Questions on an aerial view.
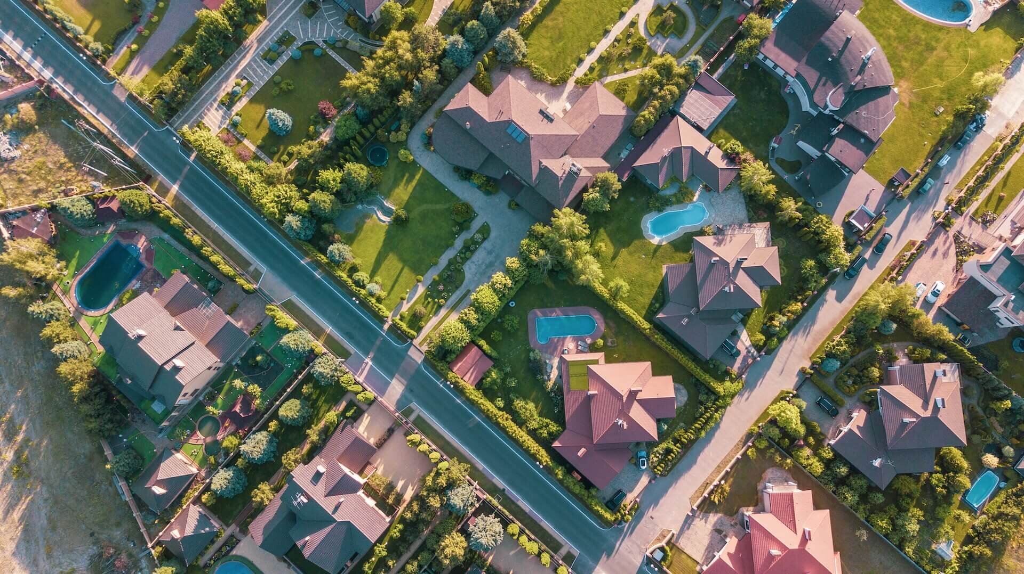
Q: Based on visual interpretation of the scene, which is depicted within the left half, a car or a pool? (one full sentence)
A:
Visible within the left half is a pool.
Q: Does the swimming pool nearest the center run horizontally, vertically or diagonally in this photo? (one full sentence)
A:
In this picture, the swimming pool nearest the center is oriented horizontally.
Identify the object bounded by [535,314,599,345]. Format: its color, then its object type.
blue swimming pool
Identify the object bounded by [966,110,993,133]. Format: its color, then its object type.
blue vehicle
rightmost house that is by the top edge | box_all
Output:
[755,0,898,198]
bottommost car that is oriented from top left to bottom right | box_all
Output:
[815,395,841,420]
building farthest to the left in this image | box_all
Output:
[12,209,57,245]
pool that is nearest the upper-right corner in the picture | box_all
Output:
[894,0,980,26]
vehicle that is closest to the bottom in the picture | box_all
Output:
[605,487,629,511]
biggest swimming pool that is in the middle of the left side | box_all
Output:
[72,238,148,312]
